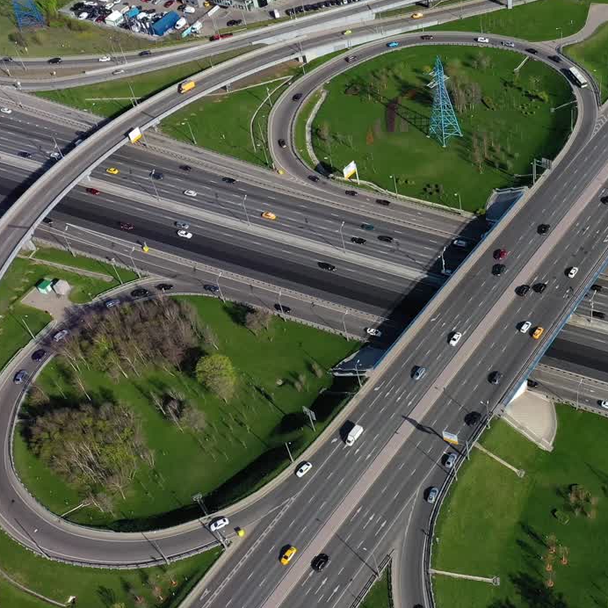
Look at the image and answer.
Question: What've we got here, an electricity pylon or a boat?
electricity pylon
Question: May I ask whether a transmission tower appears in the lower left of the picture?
No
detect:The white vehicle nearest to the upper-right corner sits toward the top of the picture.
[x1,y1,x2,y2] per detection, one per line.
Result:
[570,64,587,87]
